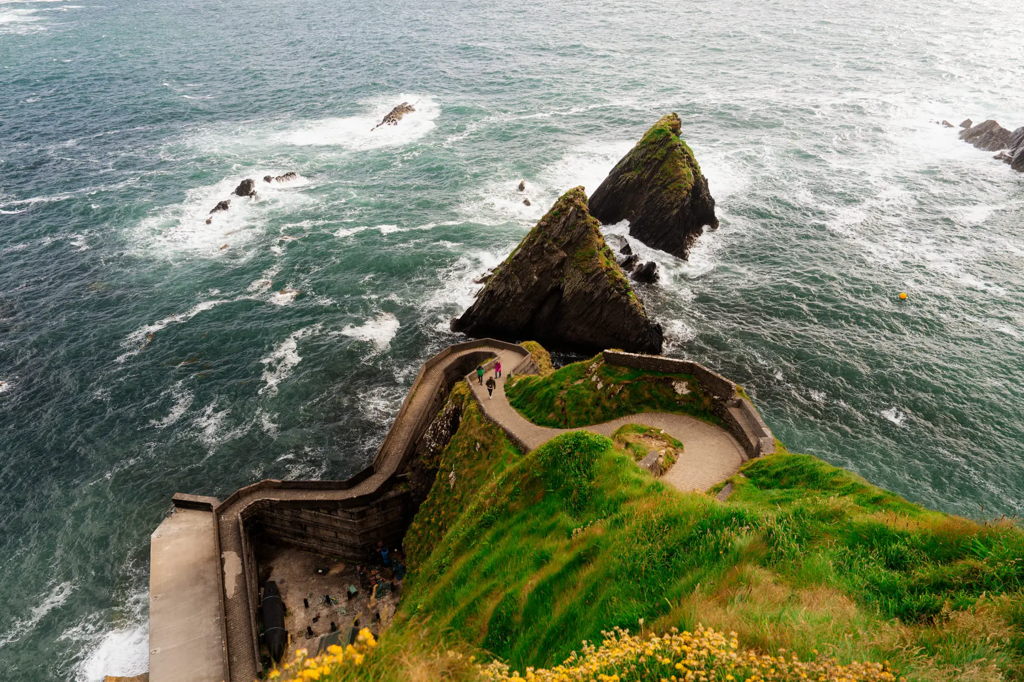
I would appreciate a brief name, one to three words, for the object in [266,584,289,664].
boat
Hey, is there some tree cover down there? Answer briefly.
No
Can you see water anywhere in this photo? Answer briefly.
Yes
